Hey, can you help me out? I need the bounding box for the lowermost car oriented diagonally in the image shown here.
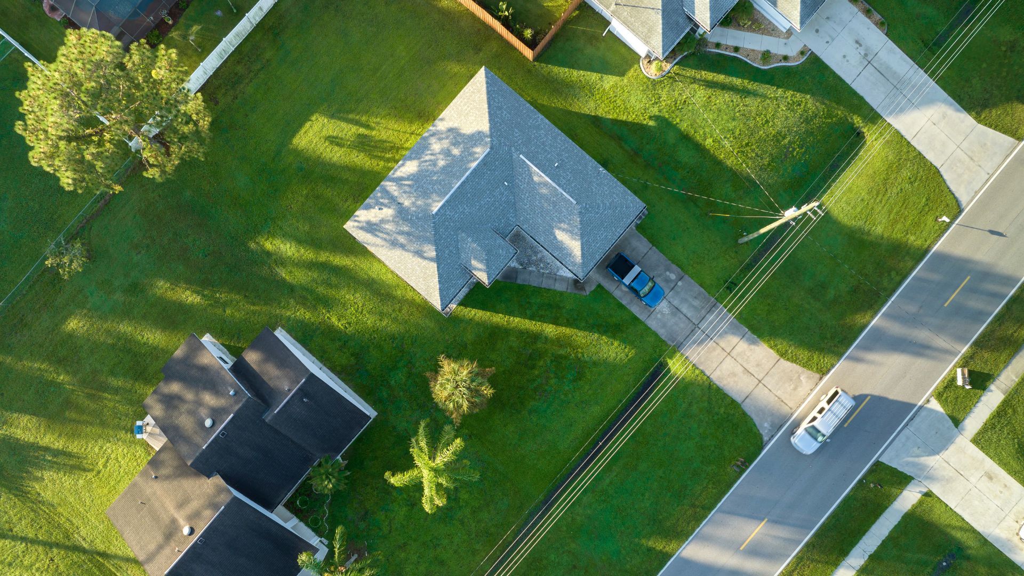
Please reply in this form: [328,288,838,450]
[791,387,856,452]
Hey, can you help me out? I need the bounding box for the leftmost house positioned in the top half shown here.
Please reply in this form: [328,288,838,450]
[342,66,648,313]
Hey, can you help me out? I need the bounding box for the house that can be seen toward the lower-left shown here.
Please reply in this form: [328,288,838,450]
[106,327,373,576]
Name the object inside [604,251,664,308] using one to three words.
truck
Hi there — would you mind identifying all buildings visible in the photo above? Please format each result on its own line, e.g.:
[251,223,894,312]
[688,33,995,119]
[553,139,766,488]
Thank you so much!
[342,66,648,313]
[582,0,830,66]
[106,327,373,576]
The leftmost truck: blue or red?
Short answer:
blue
